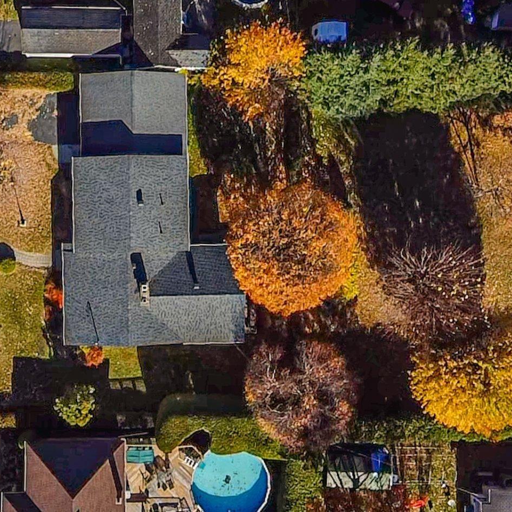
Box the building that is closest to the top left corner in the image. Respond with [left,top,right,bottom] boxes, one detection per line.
[16,6,121,57]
